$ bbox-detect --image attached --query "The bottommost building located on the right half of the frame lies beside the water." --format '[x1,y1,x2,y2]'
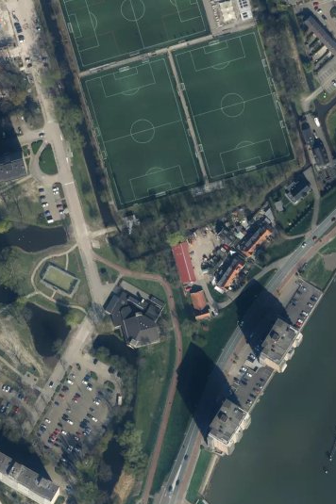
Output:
[204,400,249,455]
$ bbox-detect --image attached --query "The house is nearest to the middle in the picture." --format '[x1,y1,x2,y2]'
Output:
[173,243,196,283]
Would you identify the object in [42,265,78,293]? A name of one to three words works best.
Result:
sports court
